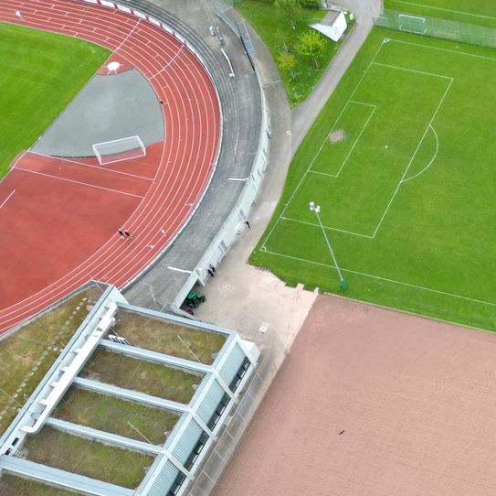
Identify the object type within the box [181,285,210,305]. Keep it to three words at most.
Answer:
work vehicle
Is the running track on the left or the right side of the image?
left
